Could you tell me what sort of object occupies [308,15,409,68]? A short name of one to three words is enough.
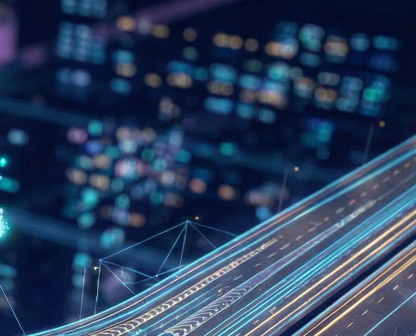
building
